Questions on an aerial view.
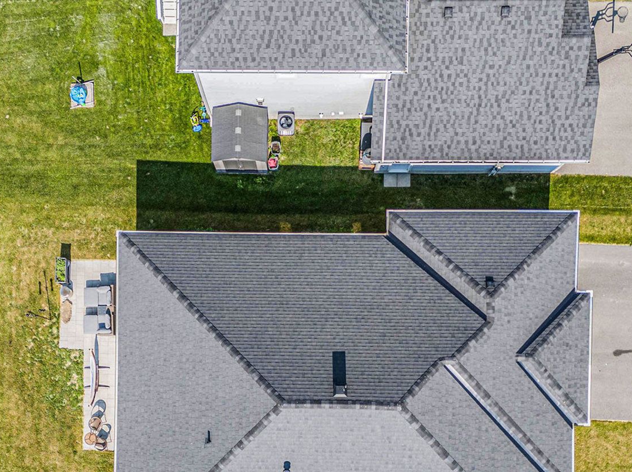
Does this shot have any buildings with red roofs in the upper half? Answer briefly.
No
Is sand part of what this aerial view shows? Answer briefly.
No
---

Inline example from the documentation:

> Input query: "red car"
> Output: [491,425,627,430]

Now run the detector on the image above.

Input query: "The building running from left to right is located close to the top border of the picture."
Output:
[176,0,601,178]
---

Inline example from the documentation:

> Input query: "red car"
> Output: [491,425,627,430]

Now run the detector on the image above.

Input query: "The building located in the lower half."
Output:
[113,209,592,472]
